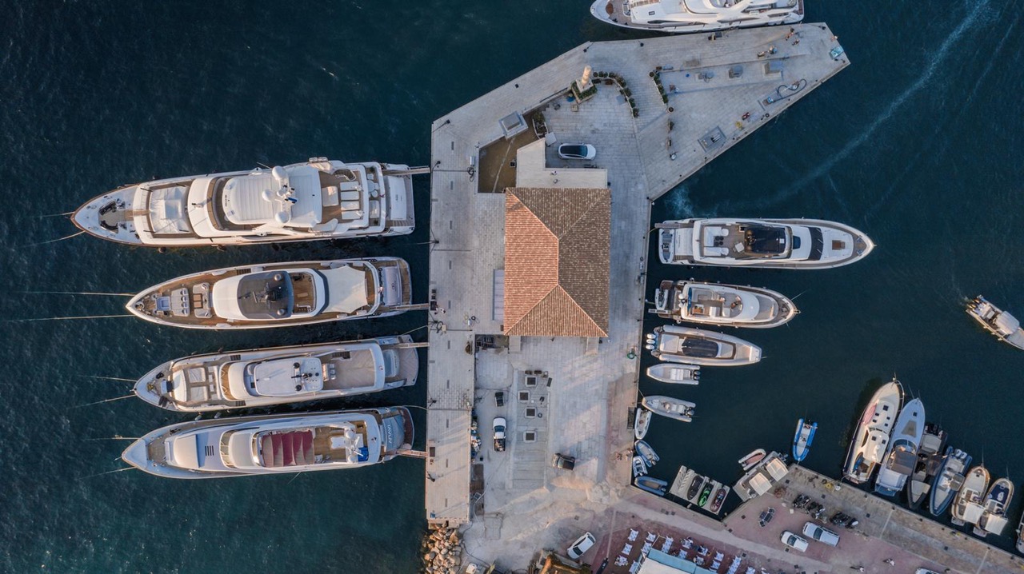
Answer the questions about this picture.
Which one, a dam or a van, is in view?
van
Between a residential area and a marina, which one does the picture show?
marina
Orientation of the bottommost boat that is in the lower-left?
horizontally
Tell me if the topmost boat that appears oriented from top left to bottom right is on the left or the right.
right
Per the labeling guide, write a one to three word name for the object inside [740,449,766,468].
boat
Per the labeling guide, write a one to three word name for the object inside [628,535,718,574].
building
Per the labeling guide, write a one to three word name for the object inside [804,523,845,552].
van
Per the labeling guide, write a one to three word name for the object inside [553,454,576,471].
car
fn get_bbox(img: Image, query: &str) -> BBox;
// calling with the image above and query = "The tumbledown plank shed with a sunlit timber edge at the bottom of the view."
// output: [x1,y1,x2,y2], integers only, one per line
[528,545,596,574]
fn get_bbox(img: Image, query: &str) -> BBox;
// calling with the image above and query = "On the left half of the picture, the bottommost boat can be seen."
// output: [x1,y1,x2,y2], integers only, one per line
[92,405,428,483]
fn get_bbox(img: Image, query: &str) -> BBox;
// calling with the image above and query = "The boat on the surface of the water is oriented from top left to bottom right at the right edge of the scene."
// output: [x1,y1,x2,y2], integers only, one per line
[962,295,1024,349]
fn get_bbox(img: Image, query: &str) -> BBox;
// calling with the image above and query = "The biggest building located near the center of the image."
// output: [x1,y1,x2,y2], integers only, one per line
[503,187,612,353]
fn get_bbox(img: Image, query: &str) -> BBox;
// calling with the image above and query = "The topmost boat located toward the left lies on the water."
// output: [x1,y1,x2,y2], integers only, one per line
[29,157,431,252]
